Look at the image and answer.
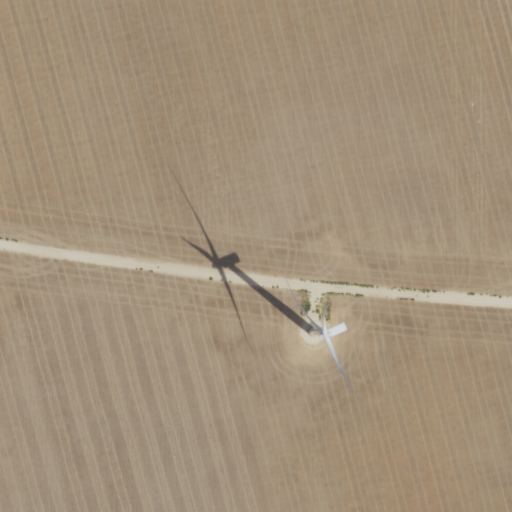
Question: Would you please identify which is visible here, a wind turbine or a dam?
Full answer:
This aerial view contains a wind turbine.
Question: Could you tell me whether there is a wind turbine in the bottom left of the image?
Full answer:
No, no wind turbine is visible in the bottom left of the image.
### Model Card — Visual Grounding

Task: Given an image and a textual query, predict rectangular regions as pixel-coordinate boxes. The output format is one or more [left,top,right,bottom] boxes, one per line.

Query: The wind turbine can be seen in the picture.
[276,244,366,416]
